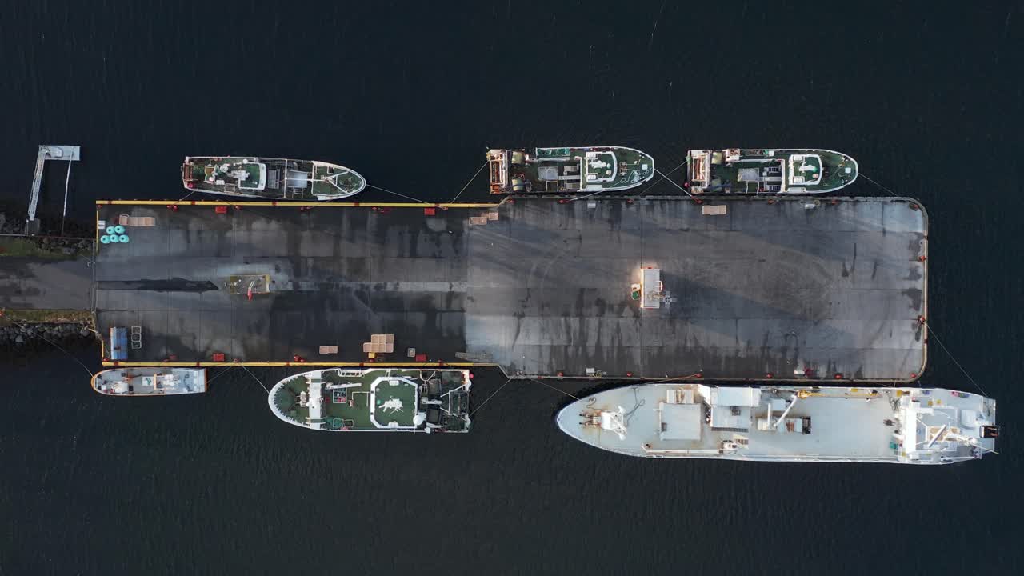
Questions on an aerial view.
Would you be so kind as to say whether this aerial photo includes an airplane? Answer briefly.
No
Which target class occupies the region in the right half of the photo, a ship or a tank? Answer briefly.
ship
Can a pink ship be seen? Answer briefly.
No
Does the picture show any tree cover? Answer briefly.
No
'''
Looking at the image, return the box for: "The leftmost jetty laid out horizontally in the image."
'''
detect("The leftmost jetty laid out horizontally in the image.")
[39,145,81,160]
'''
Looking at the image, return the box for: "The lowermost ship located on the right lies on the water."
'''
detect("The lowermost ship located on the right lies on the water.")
[557,382,999,465]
